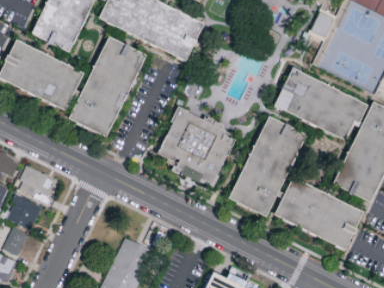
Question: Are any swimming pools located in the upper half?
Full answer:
Yes, a swimming pool can be seen in the upper half.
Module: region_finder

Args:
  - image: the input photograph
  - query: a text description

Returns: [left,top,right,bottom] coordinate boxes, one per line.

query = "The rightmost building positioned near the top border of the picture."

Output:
[310,12,337,40]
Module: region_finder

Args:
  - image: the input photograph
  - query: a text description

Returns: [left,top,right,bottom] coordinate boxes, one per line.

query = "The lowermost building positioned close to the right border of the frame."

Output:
[275,182,365,252]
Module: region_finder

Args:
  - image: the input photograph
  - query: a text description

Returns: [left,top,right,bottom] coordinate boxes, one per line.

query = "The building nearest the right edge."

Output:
[336,102,384,202]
